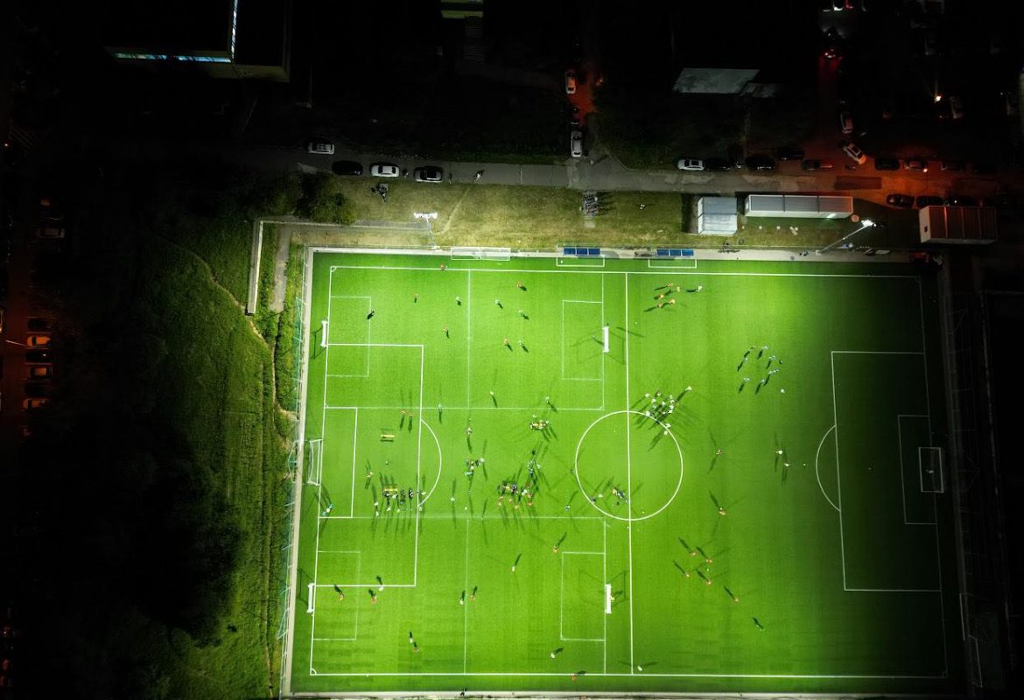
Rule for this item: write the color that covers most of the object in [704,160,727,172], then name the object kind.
black vehicle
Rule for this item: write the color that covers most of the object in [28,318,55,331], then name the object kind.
black vehicle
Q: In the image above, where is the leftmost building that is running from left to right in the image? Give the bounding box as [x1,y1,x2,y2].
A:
[93,0,248,77]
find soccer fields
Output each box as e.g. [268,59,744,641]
[290,252,967,695]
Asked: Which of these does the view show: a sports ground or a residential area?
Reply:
sports ground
